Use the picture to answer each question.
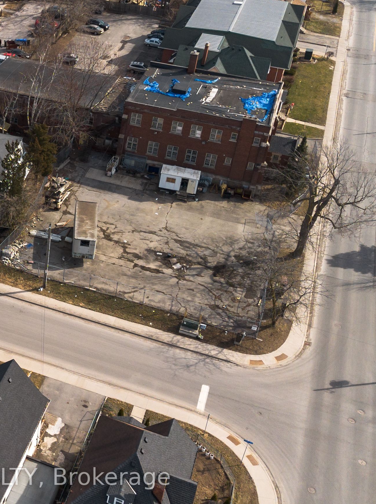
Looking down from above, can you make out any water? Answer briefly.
No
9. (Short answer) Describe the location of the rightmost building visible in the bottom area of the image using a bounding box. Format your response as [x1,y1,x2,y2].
[66,414,201,504]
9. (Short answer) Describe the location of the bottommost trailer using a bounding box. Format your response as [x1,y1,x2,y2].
[72,201,97,257]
